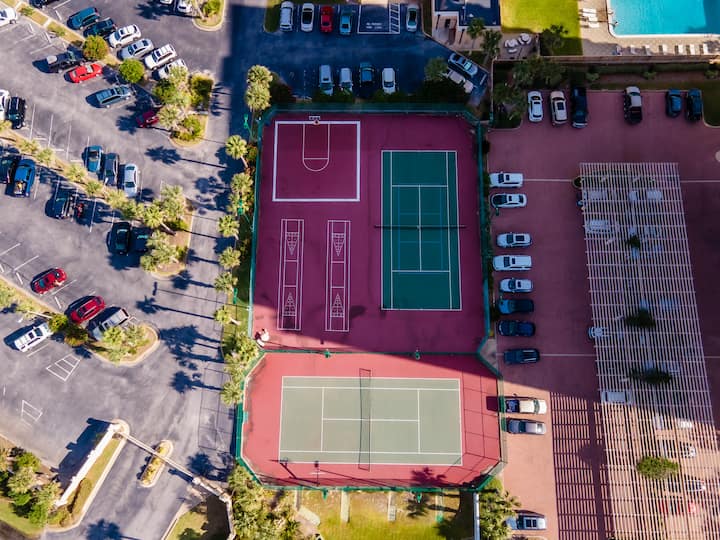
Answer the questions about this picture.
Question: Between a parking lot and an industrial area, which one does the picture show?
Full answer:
The area seen from above is a parking lot.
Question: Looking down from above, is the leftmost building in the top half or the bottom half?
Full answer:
The leftmost building is in the top half of the image.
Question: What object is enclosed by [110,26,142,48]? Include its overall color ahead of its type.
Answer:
white car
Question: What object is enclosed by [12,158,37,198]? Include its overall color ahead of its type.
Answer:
blue truck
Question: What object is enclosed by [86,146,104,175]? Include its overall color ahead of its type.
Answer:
blue car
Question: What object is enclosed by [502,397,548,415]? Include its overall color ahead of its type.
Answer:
white vehicle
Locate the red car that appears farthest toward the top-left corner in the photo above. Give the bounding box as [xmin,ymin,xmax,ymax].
[70,63,103,84]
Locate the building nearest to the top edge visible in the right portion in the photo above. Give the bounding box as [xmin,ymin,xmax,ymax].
[434,0,503,44]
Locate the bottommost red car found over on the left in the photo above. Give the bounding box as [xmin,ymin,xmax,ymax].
[70,296,106,323]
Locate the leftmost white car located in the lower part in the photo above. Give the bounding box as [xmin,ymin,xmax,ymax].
[13,321,55,352]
